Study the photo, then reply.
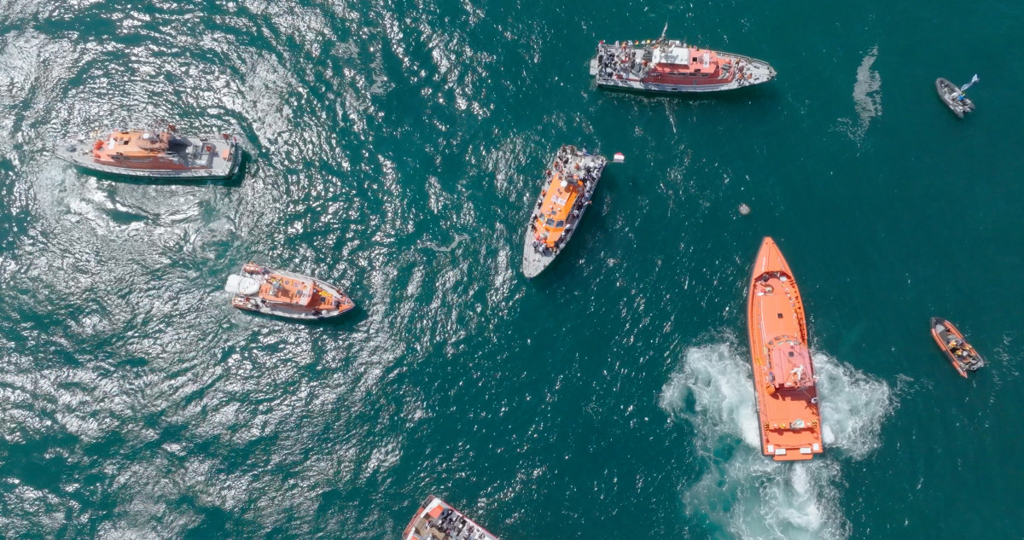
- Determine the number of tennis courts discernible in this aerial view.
zero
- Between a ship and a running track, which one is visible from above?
ship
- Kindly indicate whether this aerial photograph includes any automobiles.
No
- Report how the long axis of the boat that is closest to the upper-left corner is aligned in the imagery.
from left to right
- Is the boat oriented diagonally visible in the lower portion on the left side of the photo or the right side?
right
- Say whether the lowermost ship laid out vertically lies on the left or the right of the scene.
right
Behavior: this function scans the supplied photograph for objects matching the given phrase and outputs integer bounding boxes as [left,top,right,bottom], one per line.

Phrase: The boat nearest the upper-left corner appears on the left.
[56,122,245,179]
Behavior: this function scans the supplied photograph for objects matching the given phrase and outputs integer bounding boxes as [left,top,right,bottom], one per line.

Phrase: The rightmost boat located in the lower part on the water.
[927,318,988,381]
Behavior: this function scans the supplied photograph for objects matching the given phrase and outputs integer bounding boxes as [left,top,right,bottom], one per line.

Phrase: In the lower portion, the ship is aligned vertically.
[746,236,831,464]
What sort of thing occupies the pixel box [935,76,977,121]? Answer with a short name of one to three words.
boat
